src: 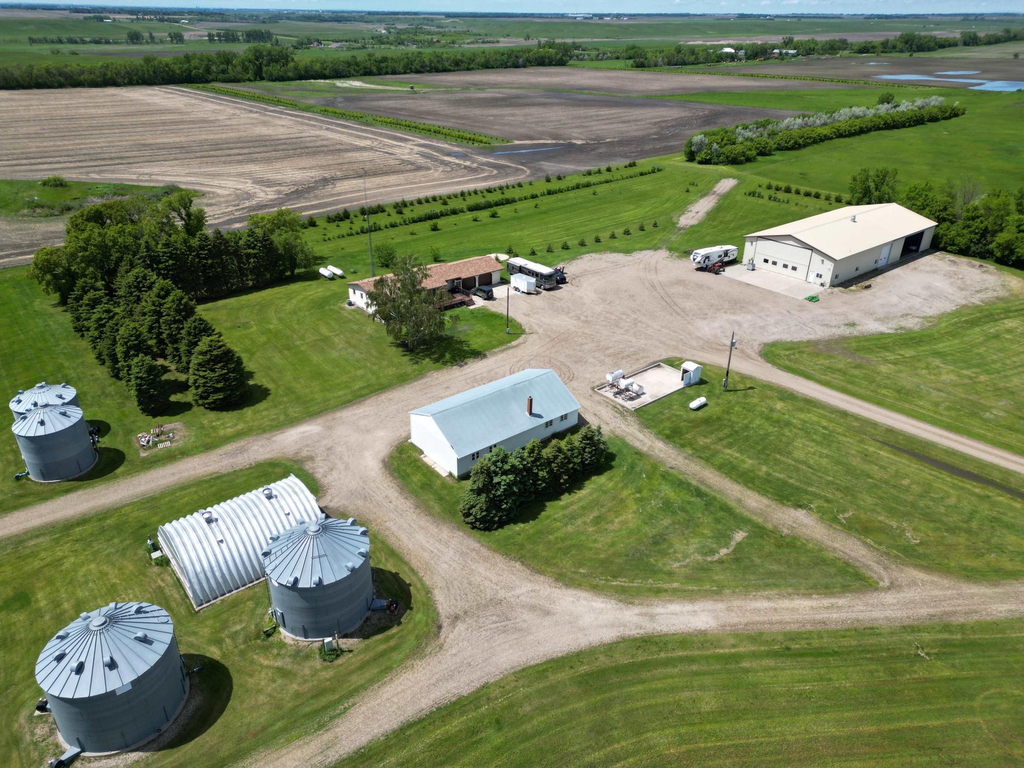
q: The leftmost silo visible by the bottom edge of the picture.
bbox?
[34,600,194,768]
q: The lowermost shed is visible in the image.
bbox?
[156,472,323,612]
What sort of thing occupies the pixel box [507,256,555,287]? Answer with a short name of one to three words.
camper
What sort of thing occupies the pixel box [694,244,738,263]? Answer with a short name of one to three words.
trailer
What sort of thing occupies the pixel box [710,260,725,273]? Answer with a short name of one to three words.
vehicle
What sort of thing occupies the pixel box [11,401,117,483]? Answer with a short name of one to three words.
silo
